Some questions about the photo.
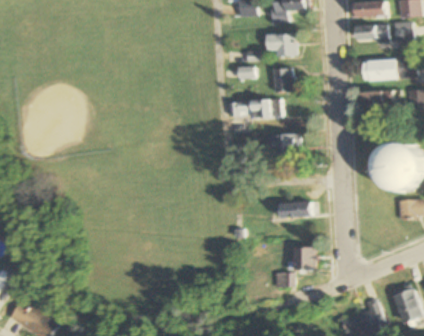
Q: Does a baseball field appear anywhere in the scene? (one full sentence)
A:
Yes, a baseball field is visible in the scene.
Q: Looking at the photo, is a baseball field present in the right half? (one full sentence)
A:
No, no baseball field is visible in the right half.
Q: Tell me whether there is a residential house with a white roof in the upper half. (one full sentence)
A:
Yes, a residential house with a white roof is visible in the upper half.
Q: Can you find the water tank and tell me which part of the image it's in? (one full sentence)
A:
The water tank is in the right part of the image.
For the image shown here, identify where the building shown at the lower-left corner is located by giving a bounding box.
[10,305,58,336]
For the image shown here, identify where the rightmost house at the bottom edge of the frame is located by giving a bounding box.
[393,285,424,328]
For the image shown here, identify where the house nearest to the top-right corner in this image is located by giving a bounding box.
[400,0,423,18]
